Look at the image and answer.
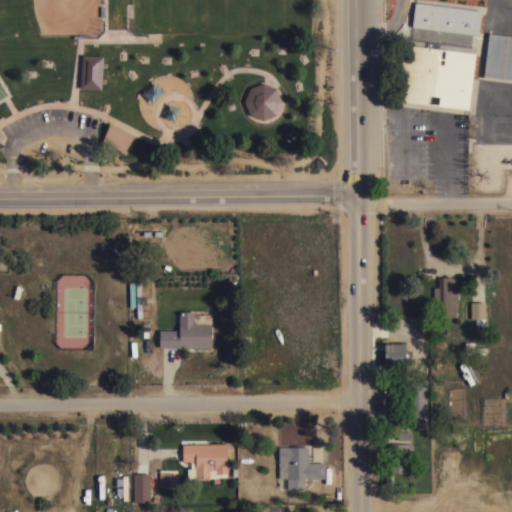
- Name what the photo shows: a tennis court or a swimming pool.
tennis court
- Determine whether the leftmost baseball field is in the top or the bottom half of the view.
top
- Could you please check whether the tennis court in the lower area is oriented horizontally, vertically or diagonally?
vertically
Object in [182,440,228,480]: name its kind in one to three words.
house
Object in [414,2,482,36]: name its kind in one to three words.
building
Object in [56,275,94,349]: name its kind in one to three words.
tennis court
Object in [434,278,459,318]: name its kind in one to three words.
house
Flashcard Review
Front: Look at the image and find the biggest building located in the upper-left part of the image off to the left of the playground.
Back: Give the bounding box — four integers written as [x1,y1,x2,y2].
[78,56,104,90]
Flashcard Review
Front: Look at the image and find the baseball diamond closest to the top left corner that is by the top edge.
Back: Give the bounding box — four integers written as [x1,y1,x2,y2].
[34,0,104,38]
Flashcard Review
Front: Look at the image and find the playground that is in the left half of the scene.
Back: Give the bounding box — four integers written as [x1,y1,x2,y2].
[139,75,199,134]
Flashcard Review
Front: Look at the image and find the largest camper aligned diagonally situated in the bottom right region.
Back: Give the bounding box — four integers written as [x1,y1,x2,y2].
[459,364,476,386]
